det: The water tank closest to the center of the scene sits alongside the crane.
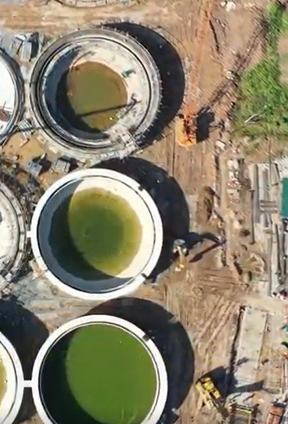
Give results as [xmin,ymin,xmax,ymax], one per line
[29,169,162,301]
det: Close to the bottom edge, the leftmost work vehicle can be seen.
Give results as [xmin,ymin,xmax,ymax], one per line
[186,373,234,418]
